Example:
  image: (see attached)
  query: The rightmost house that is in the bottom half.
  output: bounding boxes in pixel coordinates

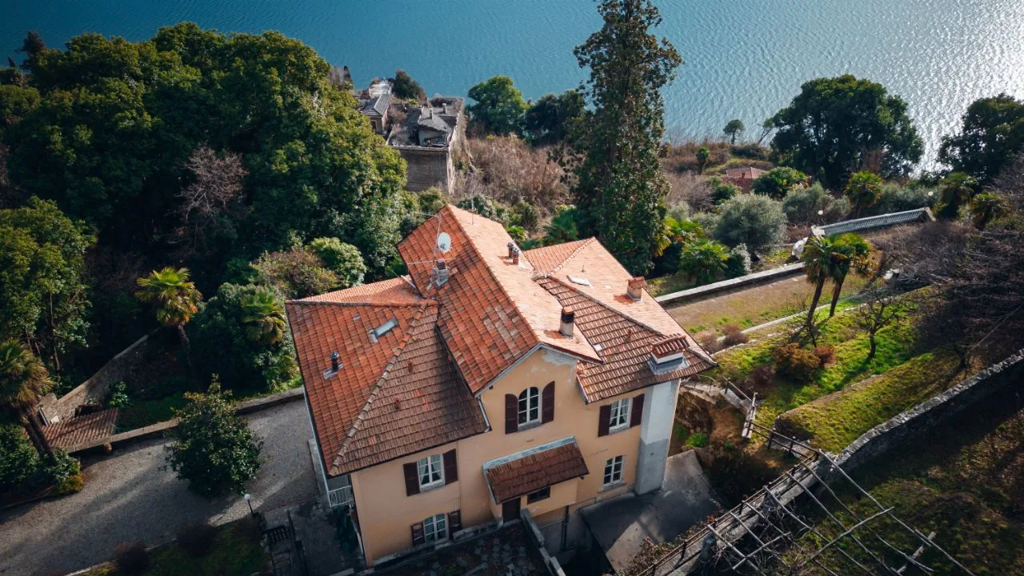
[284,194,720,566]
